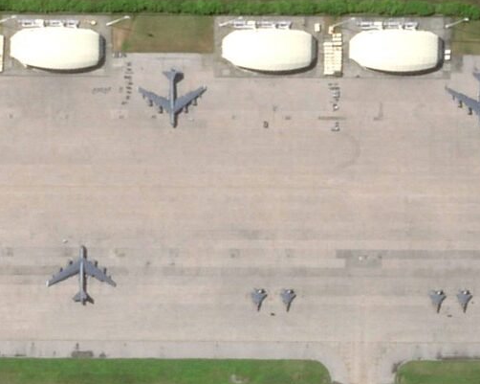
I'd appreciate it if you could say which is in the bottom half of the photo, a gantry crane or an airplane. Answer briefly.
airplane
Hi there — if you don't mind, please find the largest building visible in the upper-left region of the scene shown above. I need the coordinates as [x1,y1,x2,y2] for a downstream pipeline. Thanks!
[10,26,100,72]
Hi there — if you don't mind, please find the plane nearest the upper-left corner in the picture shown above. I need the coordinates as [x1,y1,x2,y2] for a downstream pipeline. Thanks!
[139,66,207,127]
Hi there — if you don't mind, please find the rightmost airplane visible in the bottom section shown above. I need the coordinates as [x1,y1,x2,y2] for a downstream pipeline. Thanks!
[457,290,473,311]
